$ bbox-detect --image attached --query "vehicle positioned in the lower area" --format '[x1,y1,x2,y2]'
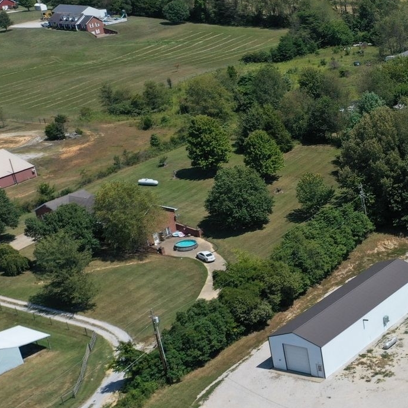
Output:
[195,250,217,262]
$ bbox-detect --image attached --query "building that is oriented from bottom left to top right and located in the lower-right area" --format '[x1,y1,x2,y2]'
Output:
[267,258,408,377]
